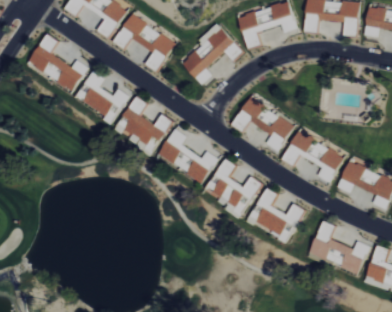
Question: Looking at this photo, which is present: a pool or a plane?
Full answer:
There is a pool in the scene.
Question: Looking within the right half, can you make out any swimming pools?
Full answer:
Yes, I can see a swimming pool within the right half.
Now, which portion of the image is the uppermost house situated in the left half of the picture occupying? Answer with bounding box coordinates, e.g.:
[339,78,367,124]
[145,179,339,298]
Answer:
[64,0,130,37]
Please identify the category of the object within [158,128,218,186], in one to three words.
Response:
house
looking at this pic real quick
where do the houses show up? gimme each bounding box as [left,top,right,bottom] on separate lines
[364,4,392,40]
[247,188,304,244]
[282,126,348,183]
[113,96,172,156]
[304,0,362,42]
[364,246,392,292]
[238,0,298,49]
[74,72,131,125]
[28,34,86,92]
[308,222,370,278]
[64,0,130,37]
[178,22,242,86]
[233,92,298,150]
[338,159,392,209]
[158,128,218,186]
[204,160,262,218]
[115,10,180,70]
